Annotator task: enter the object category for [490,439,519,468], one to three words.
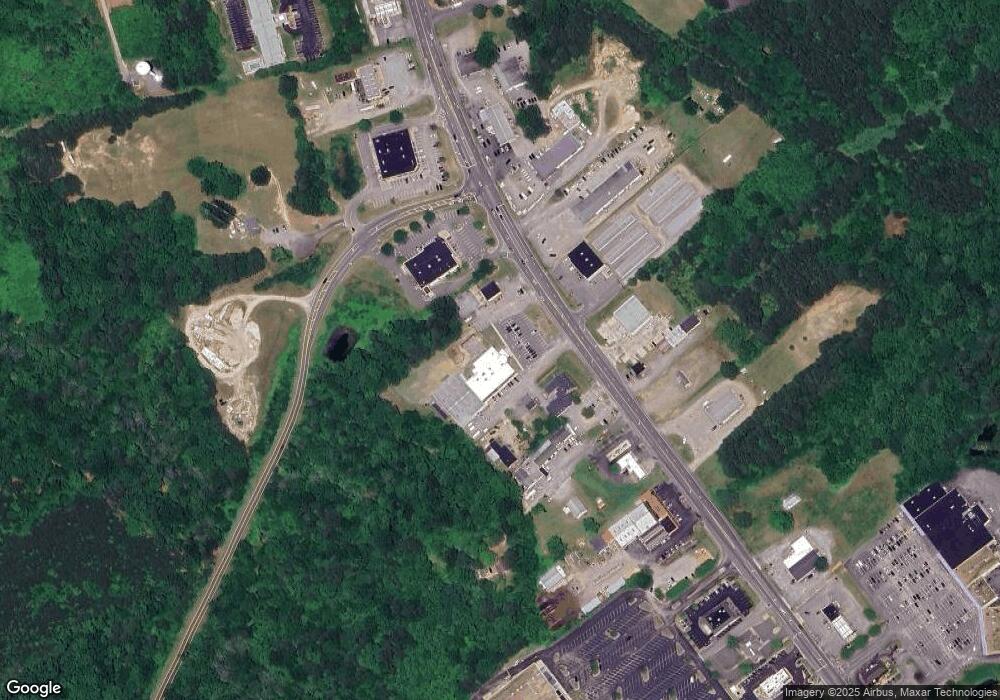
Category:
house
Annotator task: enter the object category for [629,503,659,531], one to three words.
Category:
building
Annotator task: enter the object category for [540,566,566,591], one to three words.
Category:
barn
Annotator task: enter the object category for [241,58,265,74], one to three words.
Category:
swimming pool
